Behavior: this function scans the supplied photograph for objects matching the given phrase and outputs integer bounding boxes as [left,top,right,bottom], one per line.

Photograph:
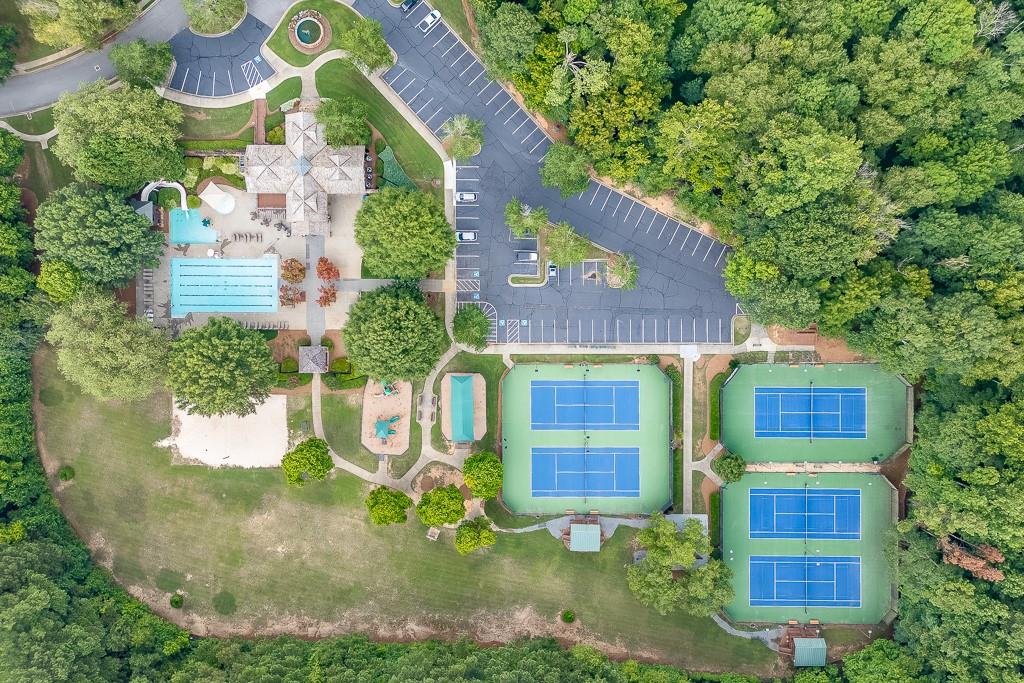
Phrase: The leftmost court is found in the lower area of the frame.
[157,391,289,467]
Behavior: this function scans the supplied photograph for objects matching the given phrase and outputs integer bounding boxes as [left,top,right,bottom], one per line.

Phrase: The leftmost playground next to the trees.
[361,377,413,456]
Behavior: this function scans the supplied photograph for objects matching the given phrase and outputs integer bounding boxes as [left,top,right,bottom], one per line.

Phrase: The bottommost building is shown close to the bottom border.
[788,632,827,666]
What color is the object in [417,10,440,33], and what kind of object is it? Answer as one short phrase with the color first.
white truck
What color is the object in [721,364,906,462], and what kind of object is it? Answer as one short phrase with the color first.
green tennis court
